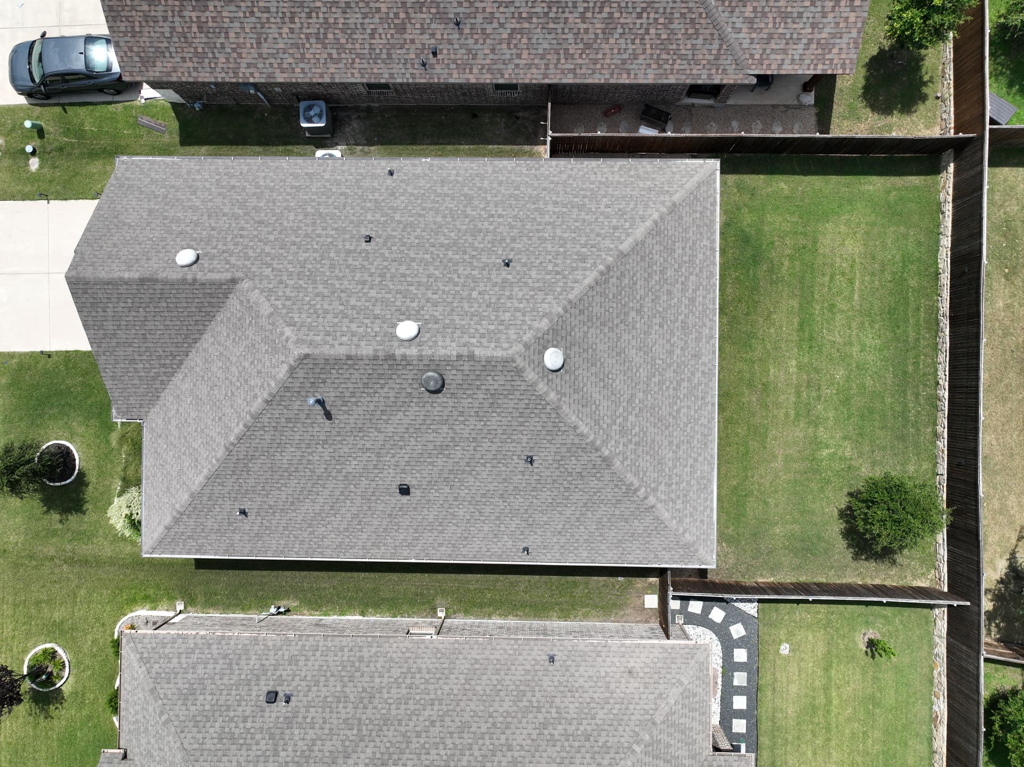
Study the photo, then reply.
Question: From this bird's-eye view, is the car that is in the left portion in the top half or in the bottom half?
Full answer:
The car that is in the left portion is in the top half of the image.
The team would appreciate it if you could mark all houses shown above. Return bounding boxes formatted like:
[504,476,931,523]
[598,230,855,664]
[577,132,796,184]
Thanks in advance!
[102,0,871,111]
[65,156,720,568]
[98,609,756,767]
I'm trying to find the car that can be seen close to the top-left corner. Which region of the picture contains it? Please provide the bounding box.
[4,32,134,99]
